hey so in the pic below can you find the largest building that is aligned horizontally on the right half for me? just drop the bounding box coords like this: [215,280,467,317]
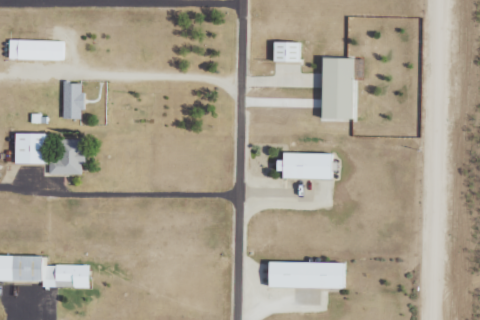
[268,262,347,290]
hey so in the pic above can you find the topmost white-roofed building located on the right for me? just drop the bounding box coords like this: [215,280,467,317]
[274,42,304,66]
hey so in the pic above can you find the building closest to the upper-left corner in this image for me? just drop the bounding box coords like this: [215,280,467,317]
[8,40,65,61]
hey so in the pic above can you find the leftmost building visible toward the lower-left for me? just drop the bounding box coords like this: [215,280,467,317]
[0,256,47,285]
